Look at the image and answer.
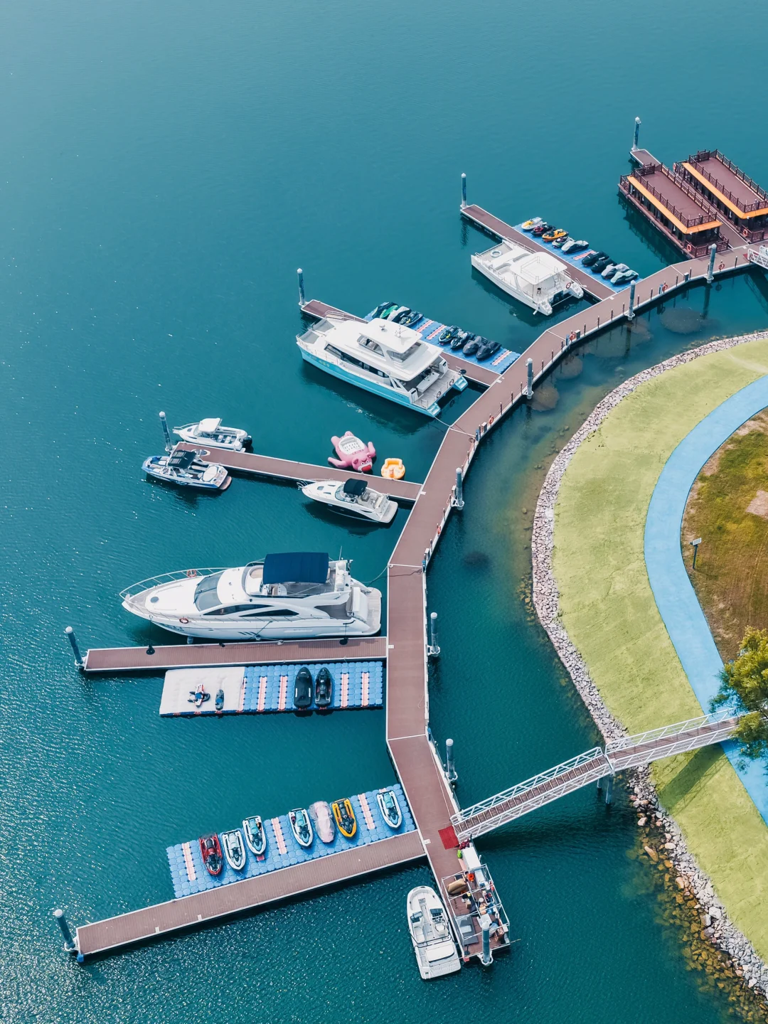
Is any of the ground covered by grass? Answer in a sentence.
Yes, there's grass in this view.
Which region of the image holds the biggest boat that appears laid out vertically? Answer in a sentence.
The biggest boat that appears laid out vertically sits in the bottom section of the image.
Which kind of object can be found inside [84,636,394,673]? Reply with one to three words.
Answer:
pier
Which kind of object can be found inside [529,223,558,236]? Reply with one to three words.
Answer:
boat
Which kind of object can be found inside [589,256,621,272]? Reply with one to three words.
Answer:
boat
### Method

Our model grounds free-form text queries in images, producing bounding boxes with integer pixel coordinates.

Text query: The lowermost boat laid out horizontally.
[115,553,382,639]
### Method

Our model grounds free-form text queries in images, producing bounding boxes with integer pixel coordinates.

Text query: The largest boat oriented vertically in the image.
[412,884,461,979]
